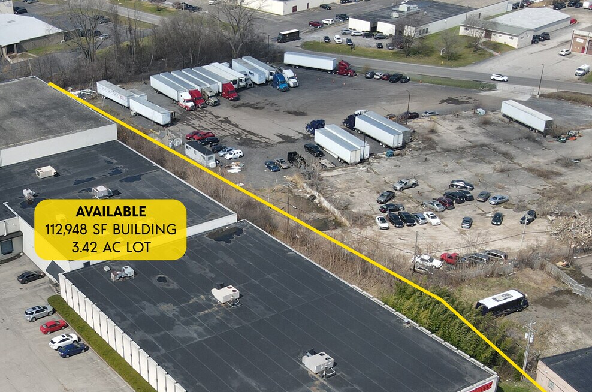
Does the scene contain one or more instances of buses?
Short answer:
Yes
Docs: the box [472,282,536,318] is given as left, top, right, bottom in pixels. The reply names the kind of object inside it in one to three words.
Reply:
bus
